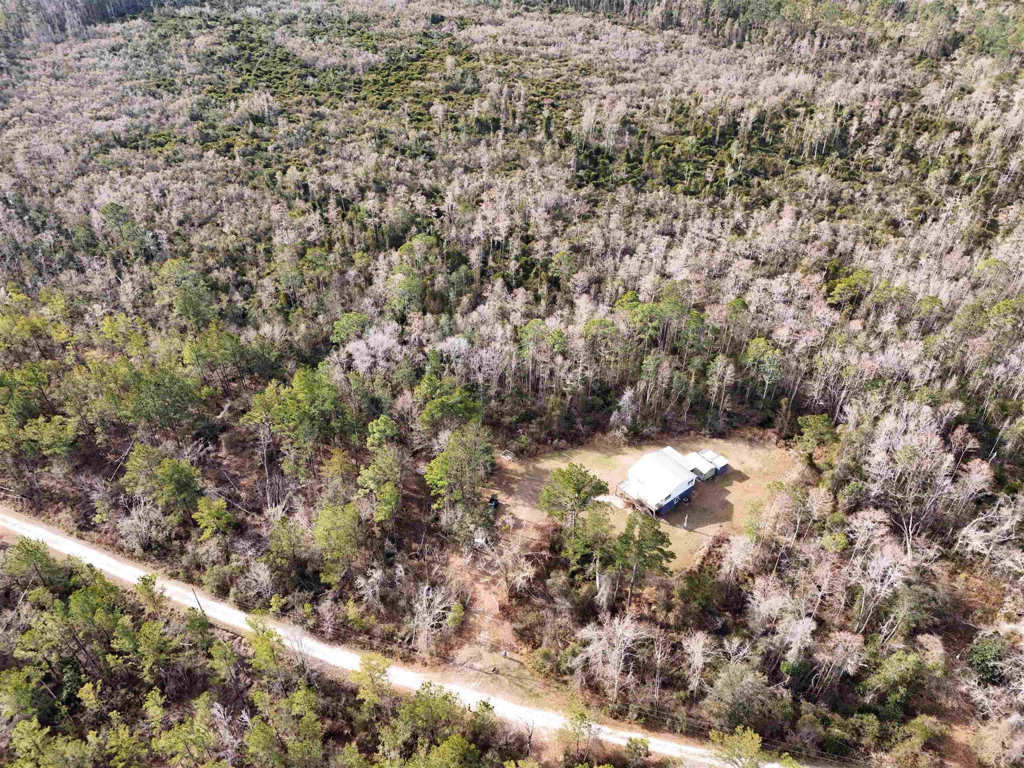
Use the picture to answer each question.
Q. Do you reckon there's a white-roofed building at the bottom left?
No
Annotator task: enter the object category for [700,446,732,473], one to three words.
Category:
shed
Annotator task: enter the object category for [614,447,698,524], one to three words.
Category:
house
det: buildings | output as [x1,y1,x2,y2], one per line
[700,446,732,473]
[614,447,698,524]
